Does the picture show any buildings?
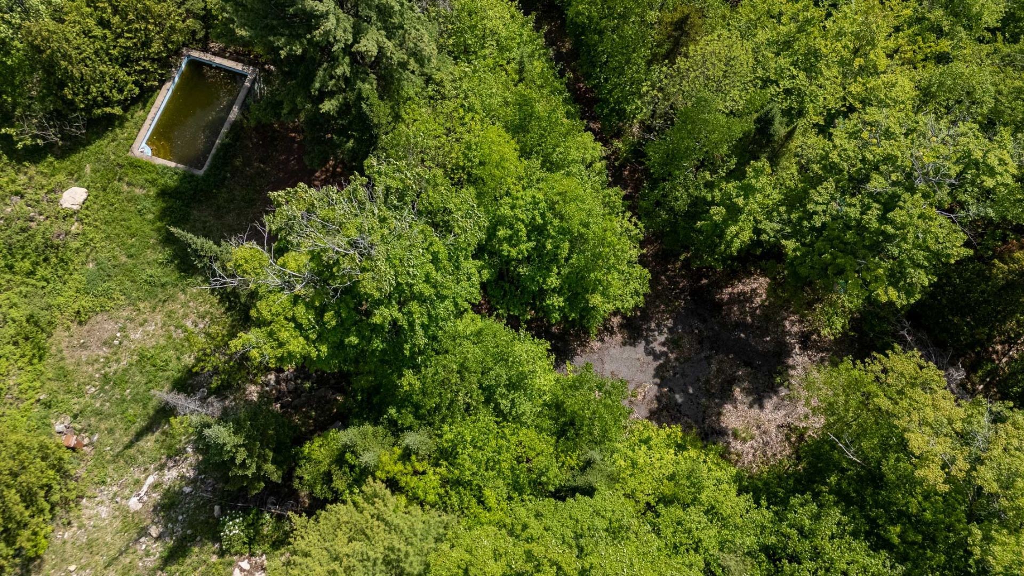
No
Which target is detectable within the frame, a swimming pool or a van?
swimming pool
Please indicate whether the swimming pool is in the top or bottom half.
top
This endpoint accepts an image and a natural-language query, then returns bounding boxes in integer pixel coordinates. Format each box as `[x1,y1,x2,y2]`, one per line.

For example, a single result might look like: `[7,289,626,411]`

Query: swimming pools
[130,52,262,176]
